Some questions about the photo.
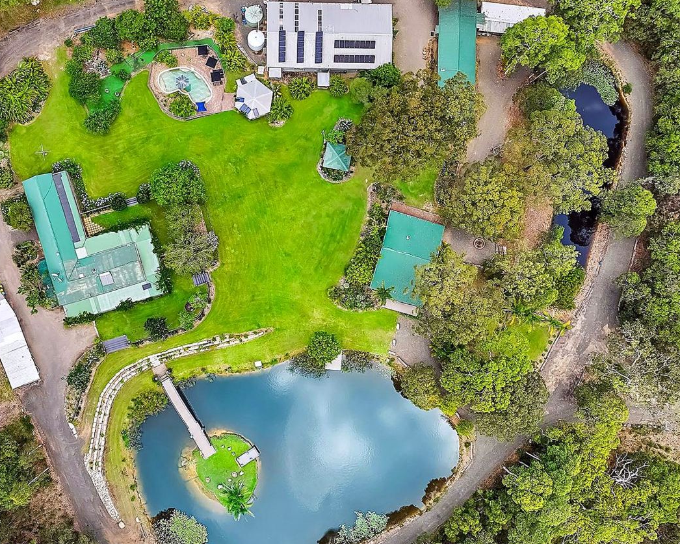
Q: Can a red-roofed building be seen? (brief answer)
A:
No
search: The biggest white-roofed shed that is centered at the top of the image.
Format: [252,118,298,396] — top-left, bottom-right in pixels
[263,1,392,89]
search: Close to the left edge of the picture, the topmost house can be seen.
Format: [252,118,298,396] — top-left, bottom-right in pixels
[22,171,164,317]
